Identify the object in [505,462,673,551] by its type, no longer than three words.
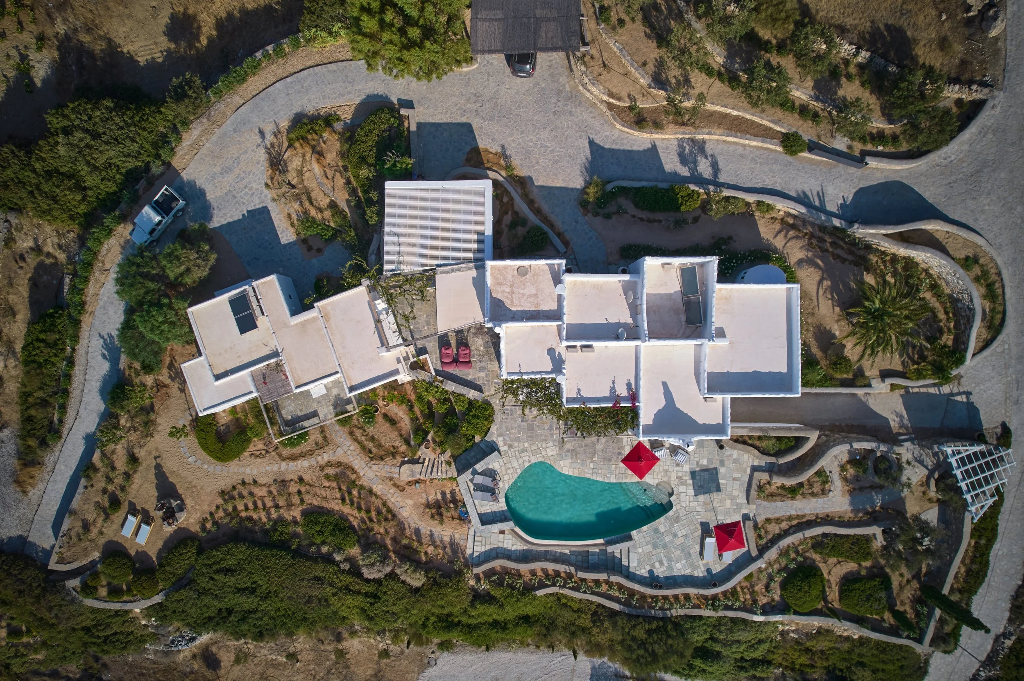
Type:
swimming pool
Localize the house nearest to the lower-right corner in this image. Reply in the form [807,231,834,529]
[485,257,801,450]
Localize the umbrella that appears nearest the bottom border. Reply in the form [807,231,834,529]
[713,520,745,554]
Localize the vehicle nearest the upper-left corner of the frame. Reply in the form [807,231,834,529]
[132,184,189,249]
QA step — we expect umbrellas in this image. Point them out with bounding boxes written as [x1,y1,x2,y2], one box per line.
[713,520,745,554]
[621,441,660,480]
